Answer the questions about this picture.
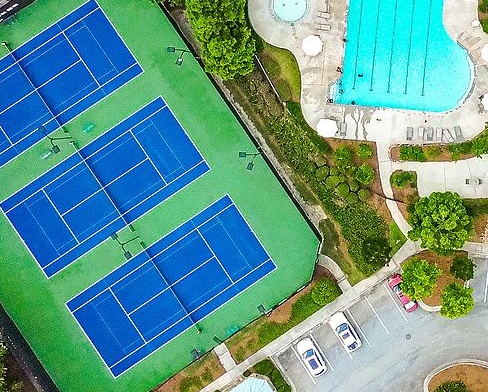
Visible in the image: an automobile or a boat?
automobile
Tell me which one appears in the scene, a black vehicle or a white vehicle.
white vehicle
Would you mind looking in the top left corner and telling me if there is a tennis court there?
Yes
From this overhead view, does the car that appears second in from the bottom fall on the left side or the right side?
right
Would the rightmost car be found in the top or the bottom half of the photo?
bottom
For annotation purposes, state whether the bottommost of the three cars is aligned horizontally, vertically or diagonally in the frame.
diagonally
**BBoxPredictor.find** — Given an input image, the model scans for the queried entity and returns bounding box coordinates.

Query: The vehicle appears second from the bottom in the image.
[329,310,363,351]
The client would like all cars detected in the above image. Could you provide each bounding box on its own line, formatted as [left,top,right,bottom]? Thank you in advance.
[385,271,421,314]
[329,310,363,351]
[294,338,328,378]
